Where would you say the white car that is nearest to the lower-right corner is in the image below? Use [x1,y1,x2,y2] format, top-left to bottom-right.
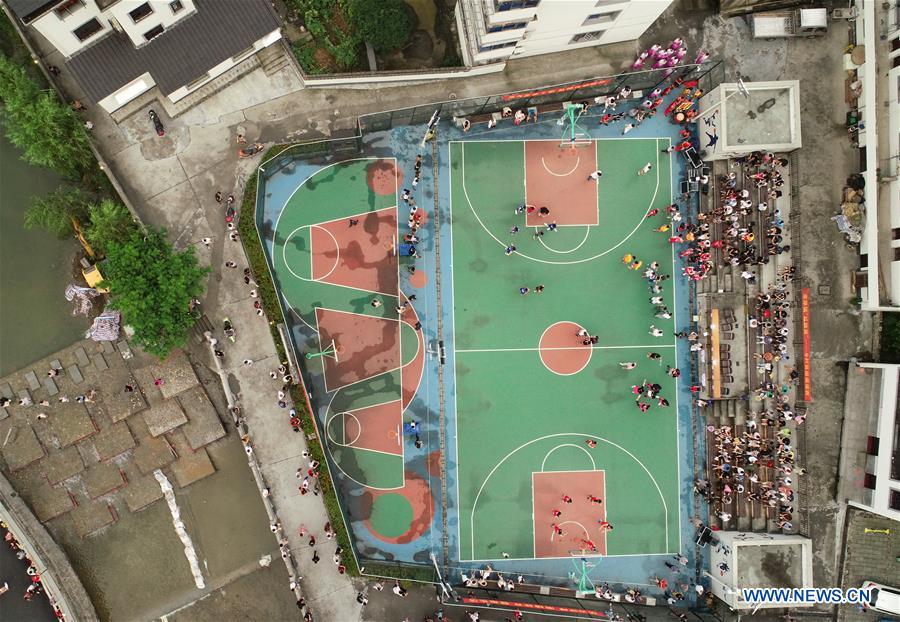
[856,577,900,614]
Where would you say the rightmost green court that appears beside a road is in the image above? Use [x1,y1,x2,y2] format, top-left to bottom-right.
[450,136,682,561]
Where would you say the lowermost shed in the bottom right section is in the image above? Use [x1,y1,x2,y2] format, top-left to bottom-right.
[709,528,813,609]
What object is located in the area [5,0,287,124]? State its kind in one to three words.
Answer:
house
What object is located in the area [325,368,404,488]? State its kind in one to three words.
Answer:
basketball court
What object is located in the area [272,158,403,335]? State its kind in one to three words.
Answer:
basketball court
